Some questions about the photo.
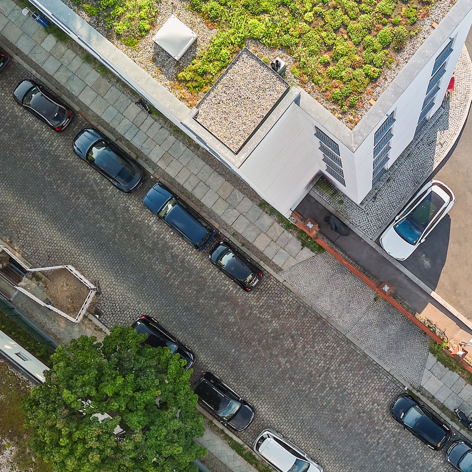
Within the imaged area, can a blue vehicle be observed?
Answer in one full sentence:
Yes, this view includes a blue vehicle.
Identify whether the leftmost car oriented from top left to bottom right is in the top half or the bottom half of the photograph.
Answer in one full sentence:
The leftmost car oriented from top left to bottom right sits in the top half of the picture.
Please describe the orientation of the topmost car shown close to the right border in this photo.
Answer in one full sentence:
Seen from above, the topmost car shown close to the right border lies on a diagonal.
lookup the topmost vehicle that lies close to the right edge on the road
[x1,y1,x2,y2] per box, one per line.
[386,183,452,257]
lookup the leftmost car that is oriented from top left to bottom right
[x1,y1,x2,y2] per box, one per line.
[17,81,73,131]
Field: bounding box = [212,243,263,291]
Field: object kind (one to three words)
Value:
car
